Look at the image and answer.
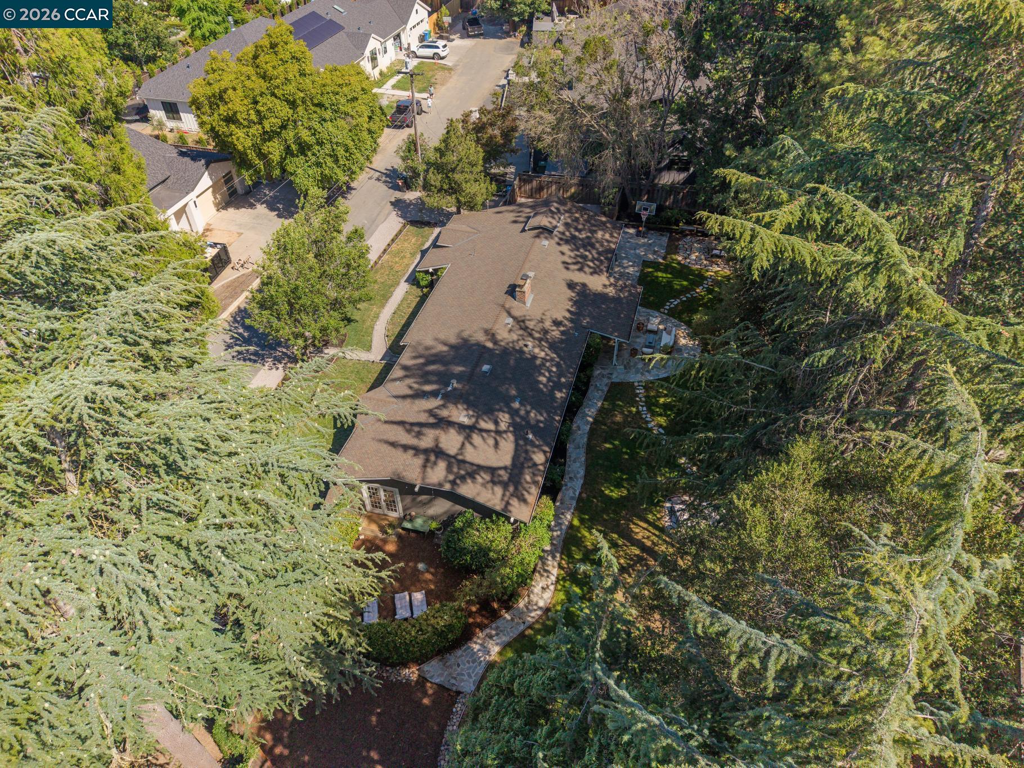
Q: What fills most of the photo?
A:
trees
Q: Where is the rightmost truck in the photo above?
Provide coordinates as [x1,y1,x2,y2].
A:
[463,11,484,32]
